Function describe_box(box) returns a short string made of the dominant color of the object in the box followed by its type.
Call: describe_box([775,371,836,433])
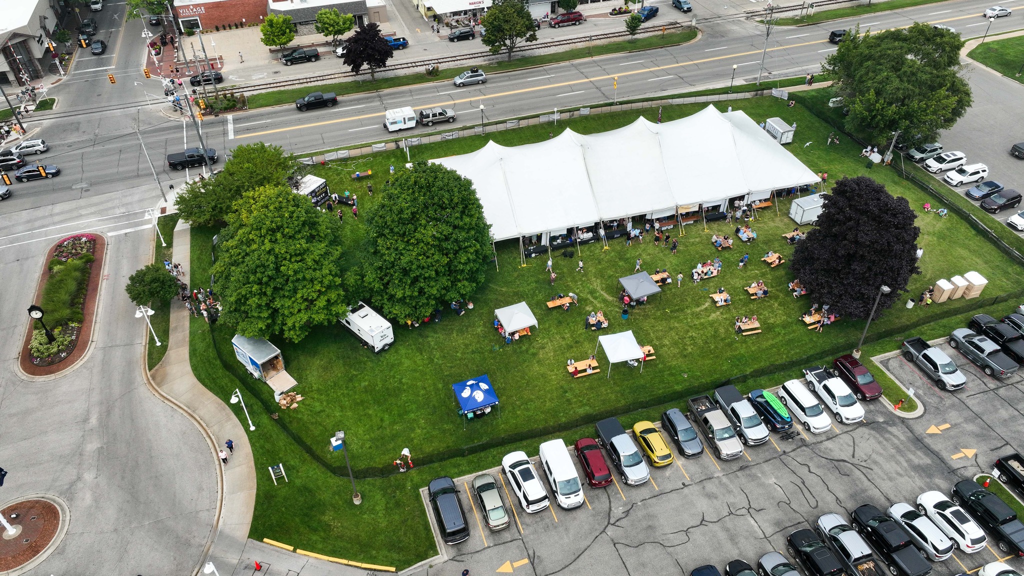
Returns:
white car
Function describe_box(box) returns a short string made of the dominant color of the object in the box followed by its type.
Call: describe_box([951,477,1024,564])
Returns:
black truck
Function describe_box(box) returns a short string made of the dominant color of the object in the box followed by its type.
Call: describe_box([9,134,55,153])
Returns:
gray car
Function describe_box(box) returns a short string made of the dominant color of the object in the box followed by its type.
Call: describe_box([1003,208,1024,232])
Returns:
white car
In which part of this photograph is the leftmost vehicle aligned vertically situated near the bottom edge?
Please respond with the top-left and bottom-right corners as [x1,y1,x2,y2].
[426,470,472,548]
